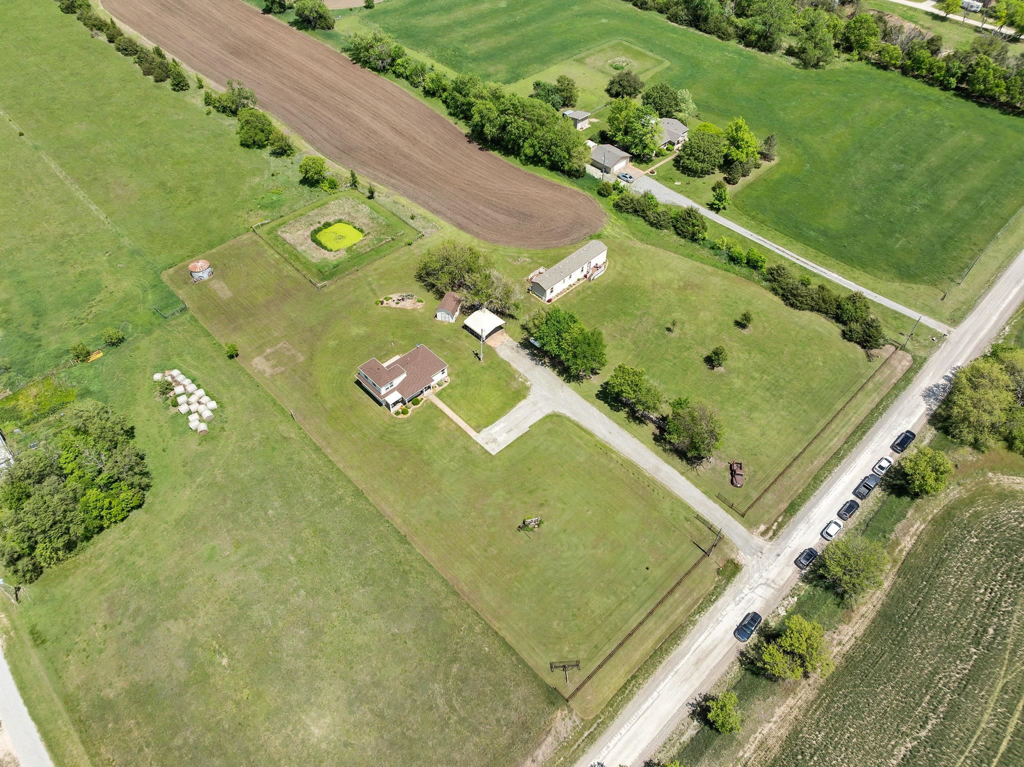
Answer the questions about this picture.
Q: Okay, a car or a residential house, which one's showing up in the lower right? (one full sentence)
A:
It is a car that can be seen in the lower right.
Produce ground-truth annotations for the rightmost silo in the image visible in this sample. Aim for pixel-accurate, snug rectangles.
[189,262,212,281]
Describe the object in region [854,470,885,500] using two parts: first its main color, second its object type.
gray truck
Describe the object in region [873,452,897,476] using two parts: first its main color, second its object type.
white car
